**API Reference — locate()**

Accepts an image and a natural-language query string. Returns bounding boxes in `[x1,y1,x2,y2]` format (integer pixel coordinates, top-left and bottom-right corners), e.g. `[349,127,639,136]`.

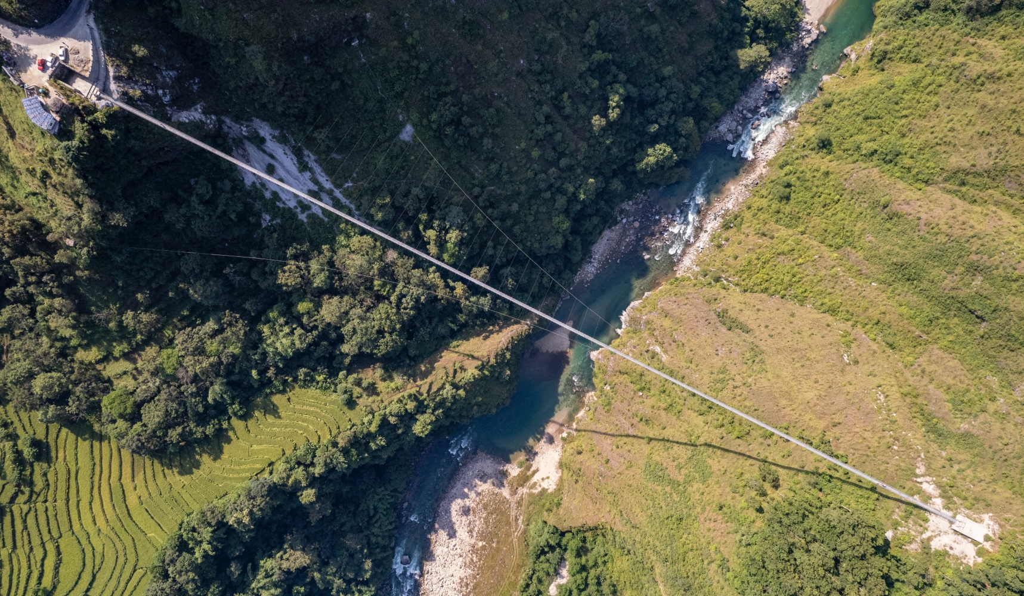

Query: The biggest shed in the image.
[22,96,64,130]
